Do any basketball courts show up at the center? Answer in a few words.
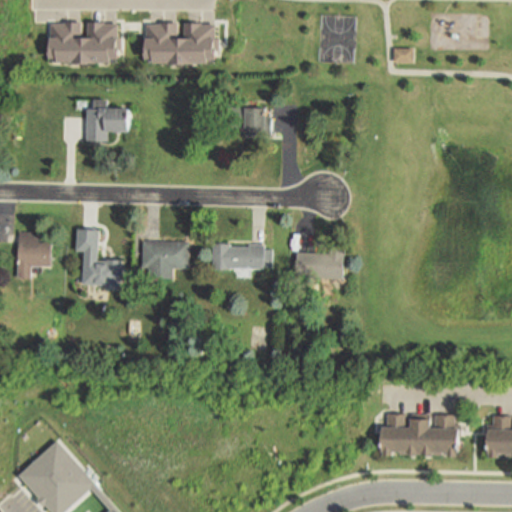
No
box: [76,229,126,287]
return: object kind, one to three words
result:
house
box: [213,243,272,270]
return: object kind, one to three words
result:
house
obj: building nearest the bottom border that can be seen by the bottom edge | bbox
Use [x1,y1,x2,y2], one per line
[16,440,96,512]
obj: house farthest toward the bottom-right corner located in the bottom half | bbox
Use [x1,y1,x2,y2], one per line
[484,414,512,458]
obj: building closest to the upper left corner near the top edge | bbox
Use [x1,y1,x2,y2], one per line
[48,22,120,66]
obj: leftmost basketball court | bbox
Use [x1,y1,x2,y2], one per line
[320,16,358,62]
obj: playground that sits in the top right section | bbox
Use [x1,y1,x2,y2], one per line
[430,12,490,50]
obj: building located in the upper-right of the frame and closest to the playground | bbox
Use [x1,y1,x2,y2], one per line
[394,48,416,64]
